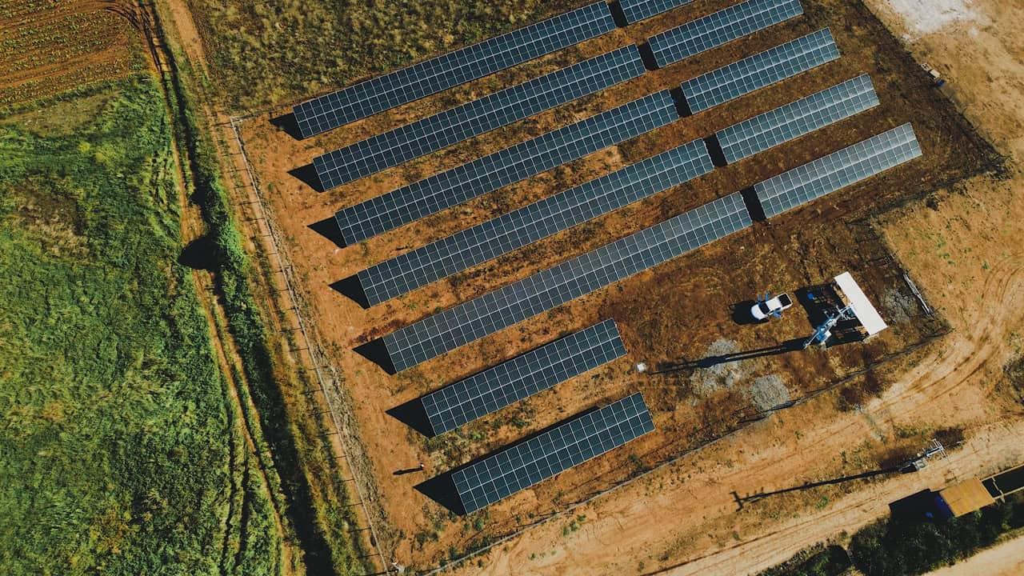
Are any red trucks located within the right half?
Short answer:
No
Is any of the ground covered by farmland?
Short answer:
Yes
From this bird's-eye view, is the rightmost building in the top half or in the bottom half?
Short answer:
bottom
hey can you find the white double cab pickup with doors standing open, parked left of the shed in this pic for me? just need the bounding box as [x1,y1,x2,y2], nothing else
[748,293,795,325]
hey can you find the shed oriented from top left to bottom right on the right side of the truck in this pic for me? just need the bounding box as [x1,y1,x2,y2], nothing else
[824,272,888,340]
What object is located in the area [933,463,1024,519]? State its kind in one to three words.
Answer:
building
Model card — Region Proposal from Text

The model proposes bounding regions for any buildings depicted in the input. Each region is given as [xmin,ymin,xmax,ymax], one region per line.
[933,463,1024,519]
[824,272,888,340]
